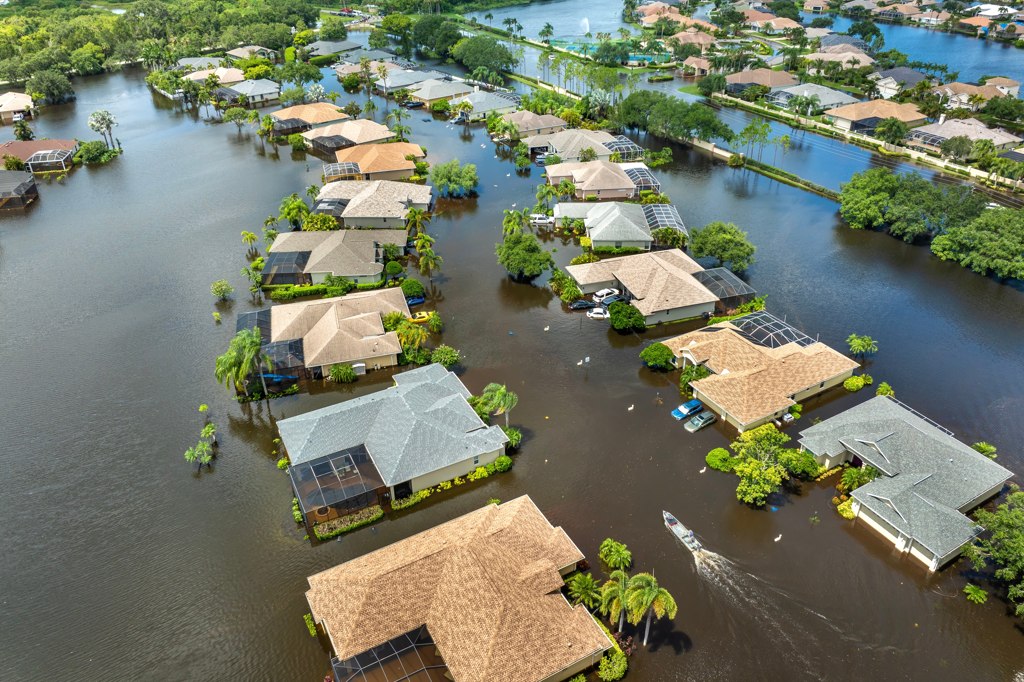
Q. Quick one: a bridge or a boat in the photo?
boat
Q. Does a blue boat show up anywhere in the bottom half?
No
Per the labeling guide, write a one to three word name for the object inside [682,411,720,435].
car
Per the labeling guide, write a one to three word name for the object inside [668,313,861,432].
house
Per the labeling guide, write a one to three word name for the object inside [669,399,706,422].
car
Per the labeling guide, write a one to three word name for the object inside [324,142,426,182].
house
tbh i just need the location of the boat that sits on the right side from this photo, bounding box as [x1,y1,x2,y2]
[663,509,705,556]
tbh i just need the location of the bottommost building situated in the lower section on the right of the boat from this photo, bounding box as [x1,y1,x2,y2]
[796,394,1015,567]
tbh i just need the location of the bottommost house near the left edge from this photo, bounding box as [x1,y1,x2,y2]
[0,165,40,207]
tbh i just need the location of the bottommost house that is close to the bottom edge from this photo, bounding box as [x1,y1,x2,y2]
[304,494,614,682]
